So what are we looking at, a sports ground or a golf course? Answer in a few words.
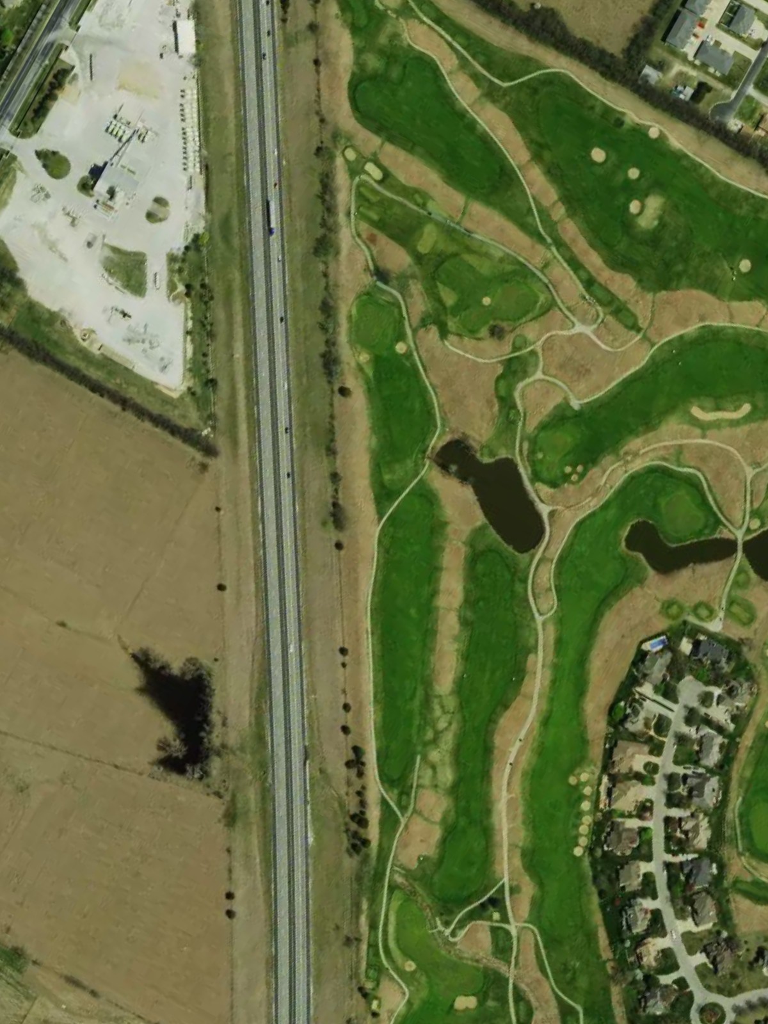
golf course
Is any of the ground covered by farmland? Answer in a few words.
Yes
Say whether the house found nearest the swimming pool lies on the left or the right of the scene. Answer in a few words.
right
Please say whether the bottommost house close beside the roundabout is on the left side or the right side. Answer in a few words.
right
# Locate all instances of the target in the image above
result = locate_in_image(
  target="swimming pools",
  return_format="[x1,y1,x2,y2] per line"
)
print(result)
[644,634,668,650]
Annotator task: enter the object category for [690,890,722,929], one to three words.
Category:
house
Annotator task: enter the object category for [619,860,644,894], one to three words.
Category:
house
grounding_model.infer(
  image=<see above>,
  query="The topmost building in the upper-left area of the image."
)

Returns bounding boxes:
[175,19,194,53]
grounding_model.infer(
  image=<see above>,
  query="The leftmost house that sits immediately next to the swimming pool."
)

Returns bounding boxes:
[643,648,677,688]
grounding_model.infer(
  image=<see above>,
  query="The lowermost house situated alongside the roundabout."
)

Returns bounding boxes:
[640,984,681,1016]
